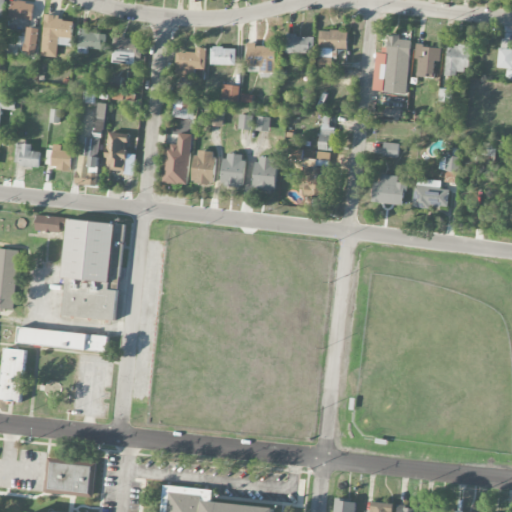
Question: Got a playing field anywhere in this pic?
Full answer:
Yes, this view includes a playing field.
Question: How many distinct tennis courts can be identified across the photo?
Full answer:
No tennis courts are visible.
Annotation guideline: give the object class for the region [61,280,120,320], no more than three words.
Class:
building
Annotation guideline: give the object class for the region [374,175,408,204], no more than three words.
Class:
house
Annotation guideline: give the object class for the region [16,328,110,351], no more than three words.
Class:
building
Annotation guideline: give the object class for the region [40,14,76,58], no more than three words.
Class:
house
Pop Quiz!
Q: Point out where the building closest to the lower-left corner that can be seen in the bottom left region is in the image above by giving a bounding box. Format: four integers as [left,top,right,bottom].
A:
[44,458,99,496]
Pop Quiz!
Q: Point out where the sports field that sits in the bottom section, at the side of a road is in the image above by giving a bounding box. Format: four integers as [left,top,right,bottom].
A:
[150,226,335,439]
